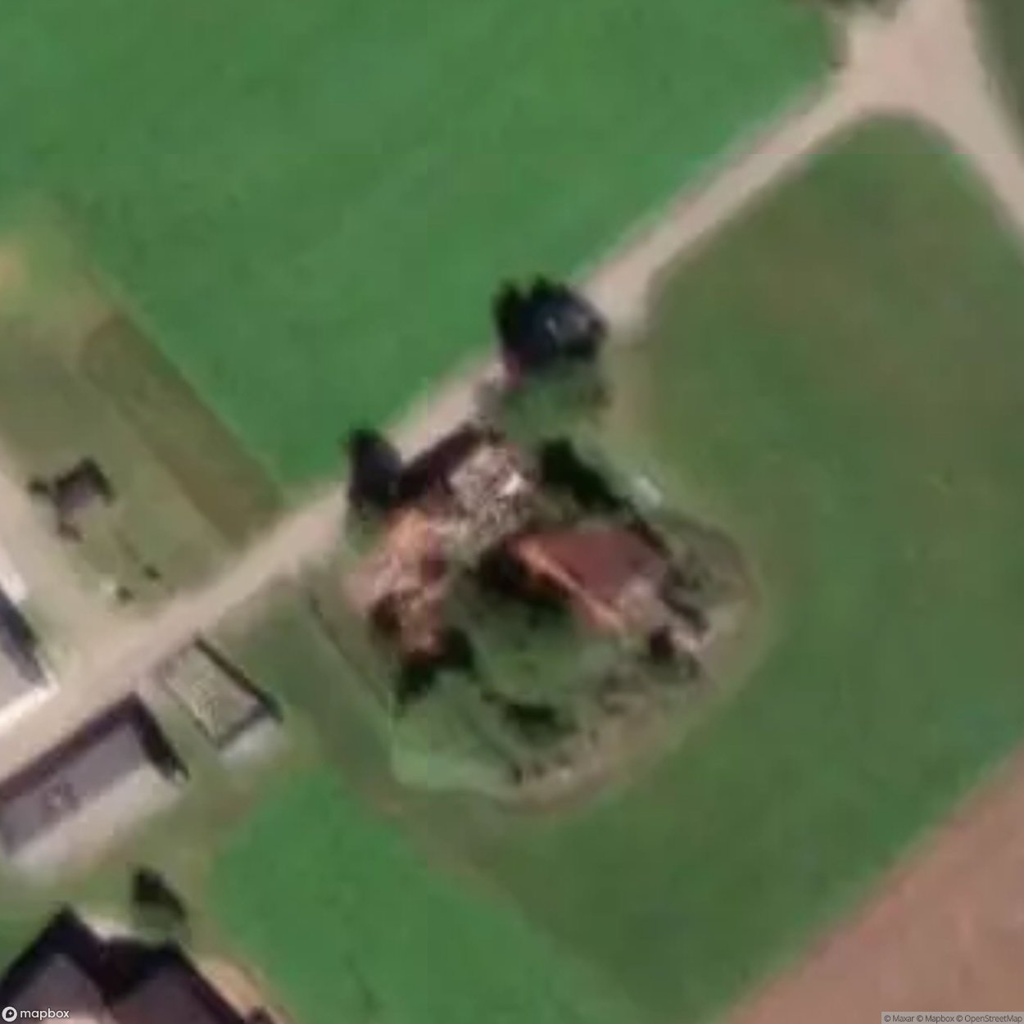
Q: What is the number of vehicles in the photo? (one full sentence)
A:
The photo contains no vehicles.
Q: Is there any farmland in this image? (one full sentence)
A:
Yes, farmland can be seen from above here.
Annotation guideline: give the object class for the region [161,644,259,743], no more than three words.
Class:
shed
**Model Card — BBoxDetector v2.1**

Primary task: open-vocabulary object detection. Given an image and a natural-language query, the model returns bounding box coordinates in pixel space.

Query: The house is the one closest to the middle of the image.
[420,449,530,554]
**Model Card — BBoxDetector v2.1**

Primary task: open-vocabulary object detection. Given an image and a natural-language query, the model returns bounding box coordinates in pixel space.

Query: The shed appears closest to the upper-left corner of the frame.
[53,474,101,522]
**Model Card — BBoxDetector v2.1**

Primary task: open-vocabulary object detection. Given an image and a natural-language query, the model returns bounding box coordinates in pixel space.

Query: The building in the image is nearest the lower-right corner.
[516,524,675,631]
